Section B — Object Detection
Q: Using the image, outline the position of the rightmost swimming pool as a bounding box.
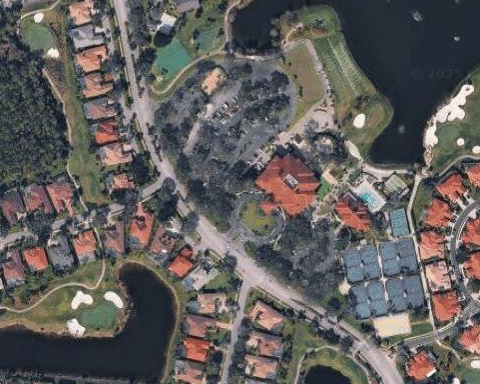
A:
[353,180,385,212]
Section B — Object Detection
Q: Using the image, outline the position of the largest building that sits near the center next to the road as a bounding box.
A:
[251,150,324,220]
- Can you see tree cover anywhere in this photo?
Yes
